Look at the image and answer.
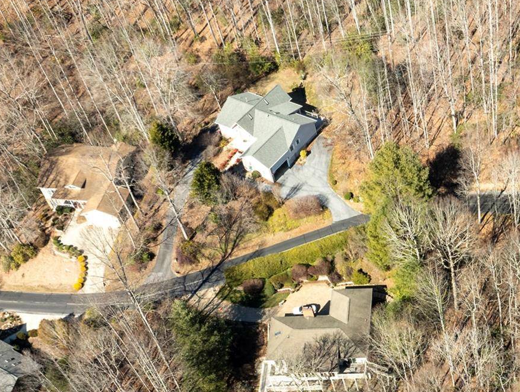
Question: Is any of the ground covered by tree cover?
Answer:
Yes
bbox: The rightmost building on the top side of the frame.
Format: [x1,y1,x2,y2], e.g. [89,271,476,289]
[215,85,334,180]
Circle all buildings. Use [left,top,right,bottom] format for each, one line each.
[258,288,384,392]
[0,341,42,392]
[215,85,334,180]
[37,137,134,229]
